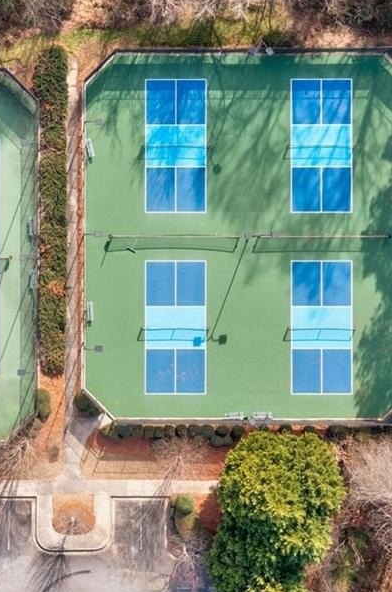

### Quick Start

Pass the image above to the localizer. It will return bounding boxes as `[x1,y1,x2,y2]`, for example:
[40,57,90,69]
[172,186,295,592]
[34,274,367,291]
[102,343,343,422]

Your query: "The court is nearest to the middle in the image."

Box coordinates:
[146,261,207,395]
